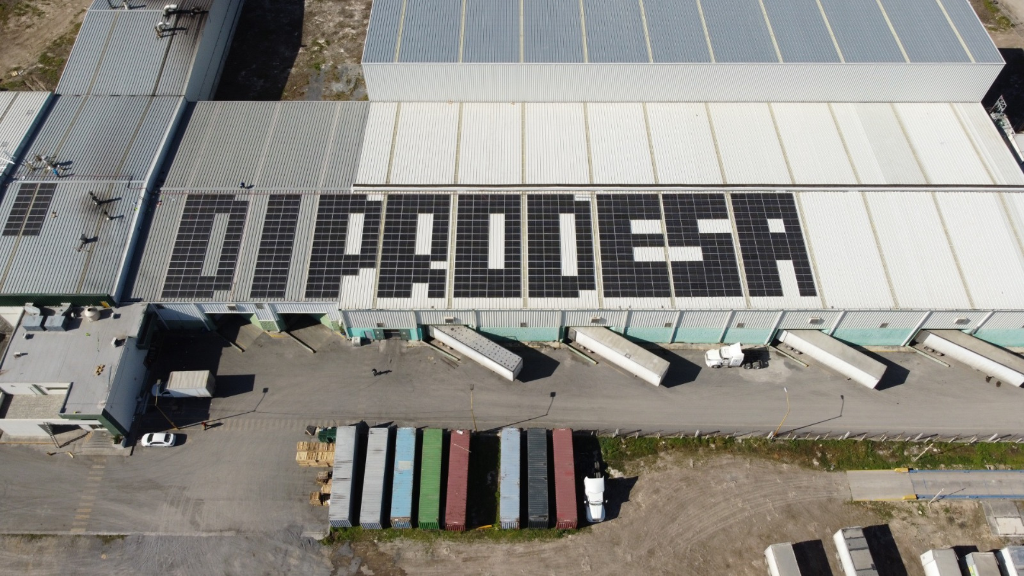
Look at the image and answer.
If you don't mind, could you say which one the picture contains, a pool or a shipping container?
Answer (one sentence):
The image shows a shipping container.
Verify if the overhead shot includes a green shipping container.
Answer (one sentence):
Yes, you can see a green shipping container in this photo.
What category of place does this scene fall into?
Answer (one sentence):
It's an industrial area.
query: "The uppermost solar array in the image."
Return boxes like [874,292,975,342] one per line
[1,184,56,237]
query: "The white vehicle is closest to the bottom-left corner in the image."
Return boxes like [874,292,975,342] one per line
[141,431,178,448]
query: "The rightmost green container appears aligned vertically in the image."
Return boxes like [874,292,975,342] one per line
[419,430,444,529]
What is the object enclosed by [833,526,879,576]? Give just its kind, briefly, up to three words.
trailer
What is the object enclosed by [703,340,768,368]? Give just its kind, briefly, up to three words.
truck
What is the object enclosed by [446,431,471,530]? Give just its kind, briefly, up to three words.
shipping container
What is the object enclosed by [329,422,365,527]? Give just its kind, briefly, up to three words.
shipping container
